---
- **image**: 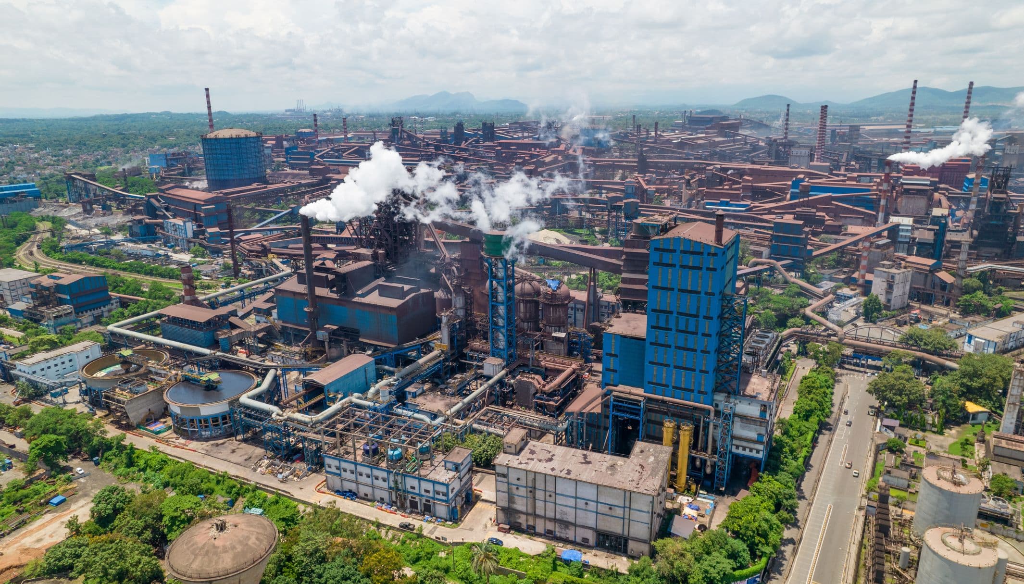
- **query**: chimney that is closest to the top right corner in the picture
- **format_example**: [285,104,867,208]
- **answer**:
[959,82,974,144]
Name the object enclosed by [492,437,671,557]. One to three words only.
building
